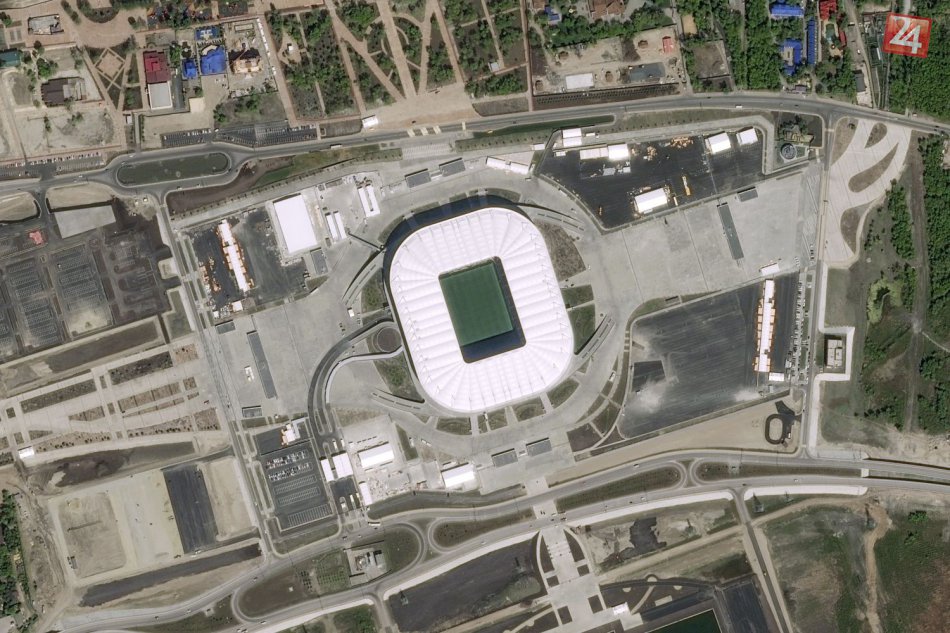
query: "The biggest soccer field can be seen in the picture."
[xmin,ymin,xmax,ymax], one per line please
[440,257,516,348]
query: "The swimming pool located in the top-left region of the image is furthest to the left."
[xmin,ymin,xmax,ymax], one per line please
[196,23,224,40]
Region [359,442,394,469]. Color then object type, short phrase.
white tent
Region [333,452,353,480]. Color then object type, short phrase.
white tent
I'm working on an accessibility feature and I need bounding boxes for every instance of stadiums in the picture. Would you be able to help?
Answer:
[389,207,574,411]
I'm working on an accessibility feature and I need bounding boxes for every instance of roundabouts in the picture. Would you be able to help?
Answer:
[117,152,228,186]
